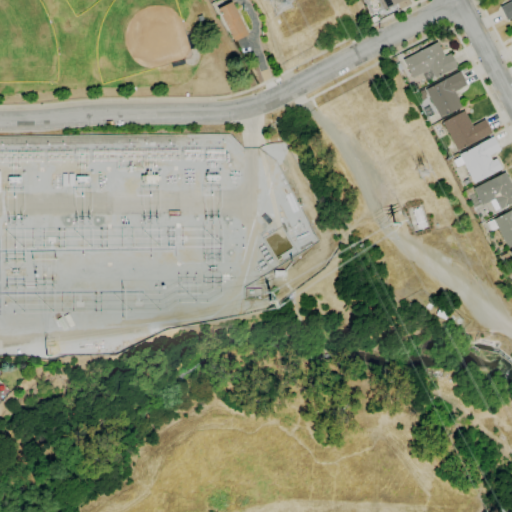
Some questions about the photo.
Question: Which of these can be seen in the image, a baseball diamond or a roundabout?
baseball diamond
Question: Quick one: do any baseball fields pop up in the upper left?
Yes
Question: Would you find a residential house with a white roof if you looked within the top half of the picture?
Yes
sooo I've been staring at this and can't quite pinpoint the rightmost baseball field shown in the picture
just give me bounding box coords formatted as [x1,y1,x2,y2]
[97,0,200,83]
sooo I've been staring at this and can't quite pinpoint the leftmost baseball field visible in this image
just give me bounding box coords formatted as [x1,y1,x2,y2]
[0,0,60,82]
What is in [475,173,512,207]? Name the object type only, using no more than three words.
house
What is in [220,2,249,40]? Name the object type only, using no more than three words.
house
